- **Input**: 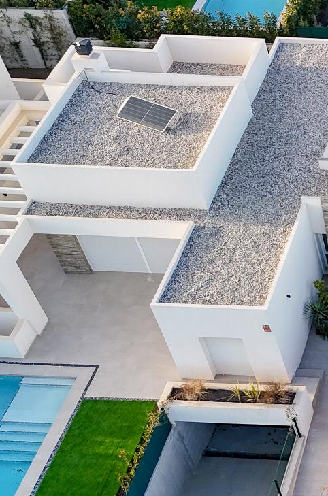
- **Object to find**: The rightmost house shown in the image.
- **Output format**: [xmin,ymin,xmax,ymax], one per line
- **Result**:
[23,38,328,379]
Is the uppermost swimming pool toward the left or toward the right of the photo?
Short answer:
right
